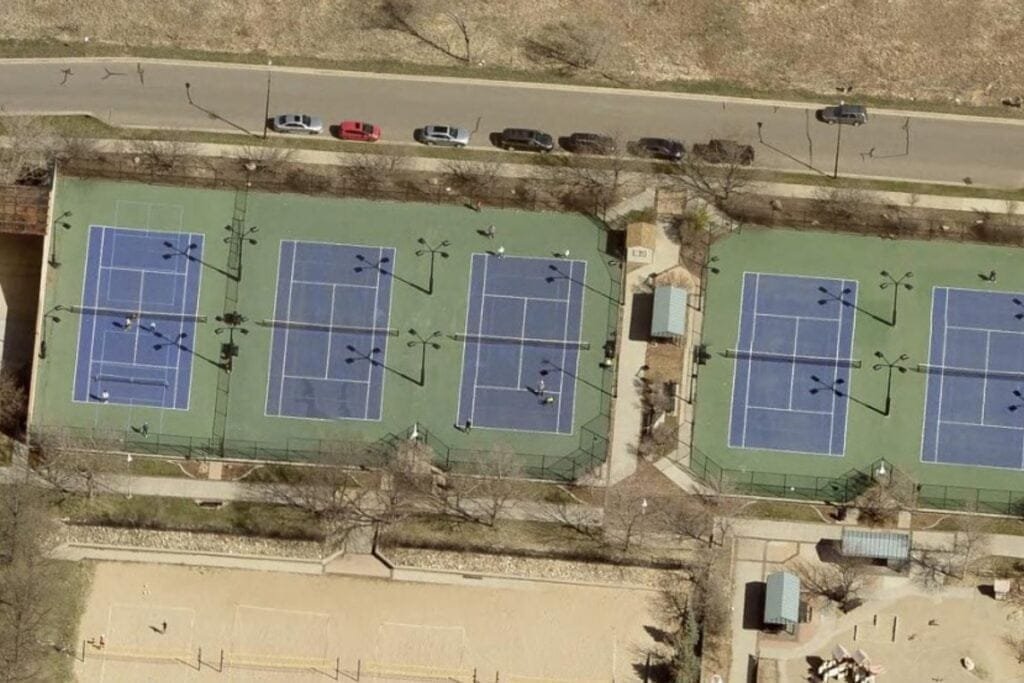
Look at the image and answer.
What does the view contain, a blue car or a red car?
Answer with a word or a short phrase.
red car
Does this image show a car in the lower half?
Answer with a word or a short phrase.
No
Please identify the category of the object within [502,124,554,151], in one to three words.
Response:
car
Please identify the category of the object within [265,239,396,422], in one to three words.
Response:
tennis court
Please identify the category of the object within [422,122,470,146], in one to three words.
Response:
car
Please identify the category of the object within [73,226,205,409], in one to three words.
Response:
tennis court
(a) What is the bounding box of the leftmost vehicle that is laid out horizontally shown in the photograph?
[275,113,324,135]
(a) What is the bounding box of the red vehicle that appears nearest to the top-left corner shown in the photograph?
[341,120,383,141]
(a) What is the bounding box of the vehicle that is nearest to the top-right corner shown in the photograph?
[820,103,867,127]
